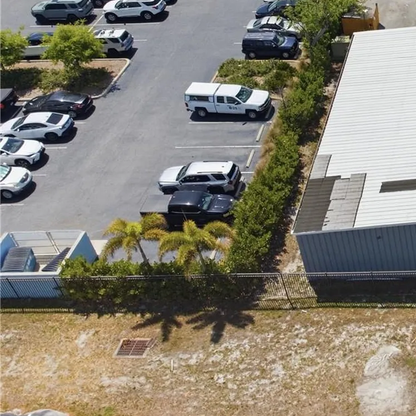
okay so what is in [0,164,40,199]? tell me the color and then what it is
white car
